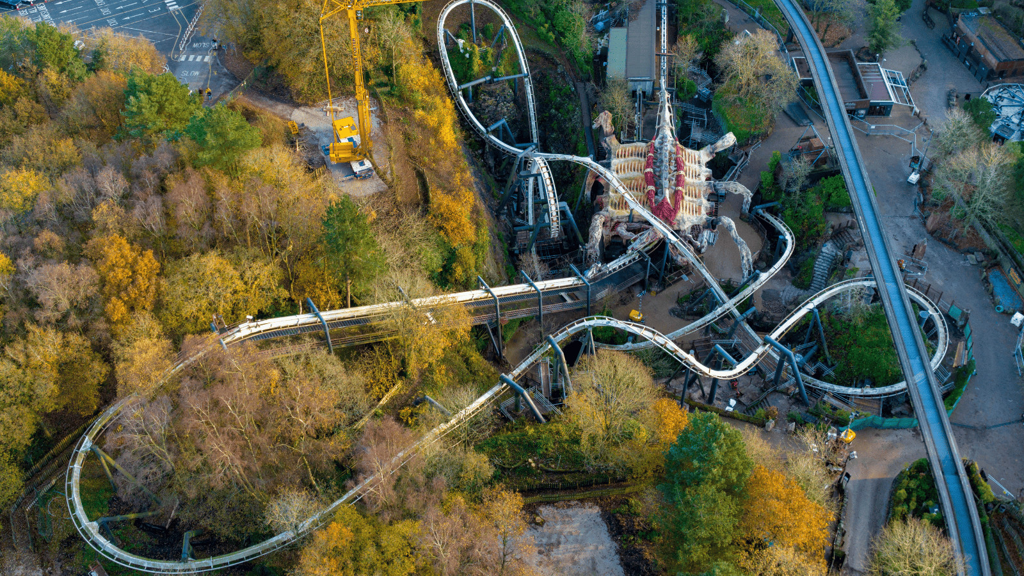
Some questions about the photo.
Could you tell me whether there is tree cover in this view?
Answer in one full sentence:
Yes, tree cover can be seen from above here.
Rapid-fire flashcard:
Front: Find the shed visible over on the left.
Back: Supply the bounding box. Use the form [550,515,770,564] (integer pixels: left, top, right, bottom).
[83,542,114,576]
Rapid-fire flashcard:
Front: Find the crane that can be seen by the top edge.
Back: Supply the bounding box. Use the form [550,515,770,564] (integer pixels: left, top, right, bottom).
[300,0,440,201]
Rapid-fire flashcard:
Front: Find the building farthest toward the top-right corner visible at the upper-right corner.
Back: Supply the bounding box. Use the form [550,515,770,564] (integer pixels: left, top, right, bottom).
[954,11,1024,88]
